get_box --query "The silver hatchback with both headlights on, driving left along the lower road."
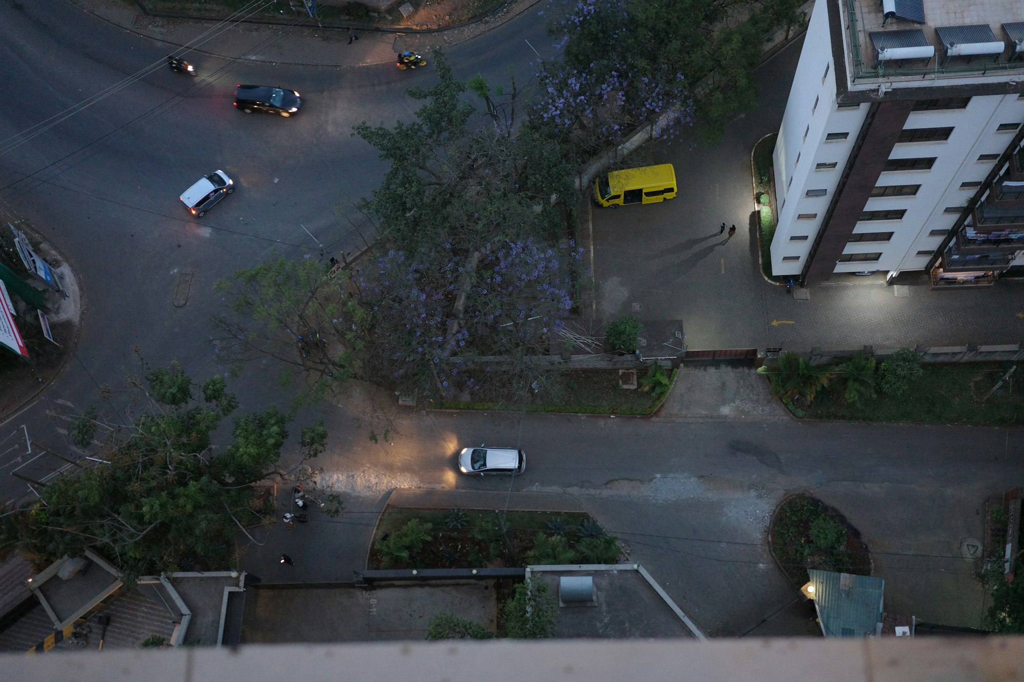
[458,440,529,478]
